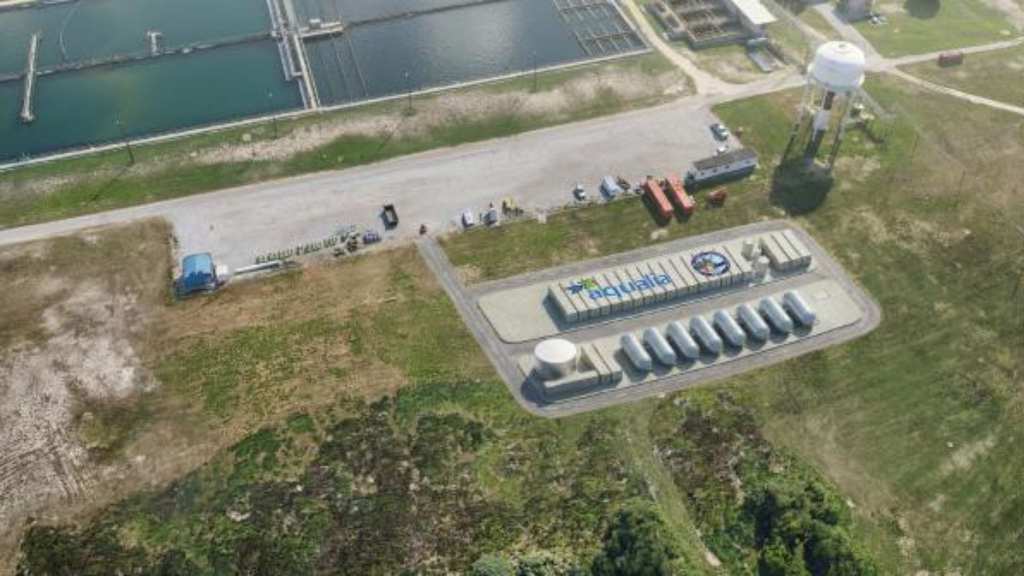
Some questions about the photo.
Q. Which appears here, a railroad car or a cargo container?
cargo container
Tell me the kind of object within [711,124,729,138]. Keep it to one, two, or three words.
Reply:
vehicle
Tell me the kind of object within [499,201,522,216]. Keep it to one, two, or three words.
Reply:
work vehicle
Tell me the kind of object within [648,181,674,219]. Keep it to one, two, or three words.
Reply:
shipping container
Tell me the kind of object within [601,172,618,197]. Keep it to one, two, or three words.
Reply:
vehicle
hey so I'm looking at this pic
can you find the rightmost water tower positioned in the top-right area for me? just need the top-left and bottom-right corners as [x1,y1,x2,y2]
[797,37,862,151]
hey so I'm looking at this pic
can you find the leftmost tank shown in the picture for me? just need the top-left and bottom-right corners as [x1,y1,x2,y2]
[534,337,578,382]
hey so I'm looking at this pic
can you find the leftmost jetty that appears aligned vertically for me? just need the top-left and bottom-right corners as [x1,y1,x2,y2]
[21,31,38,121]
